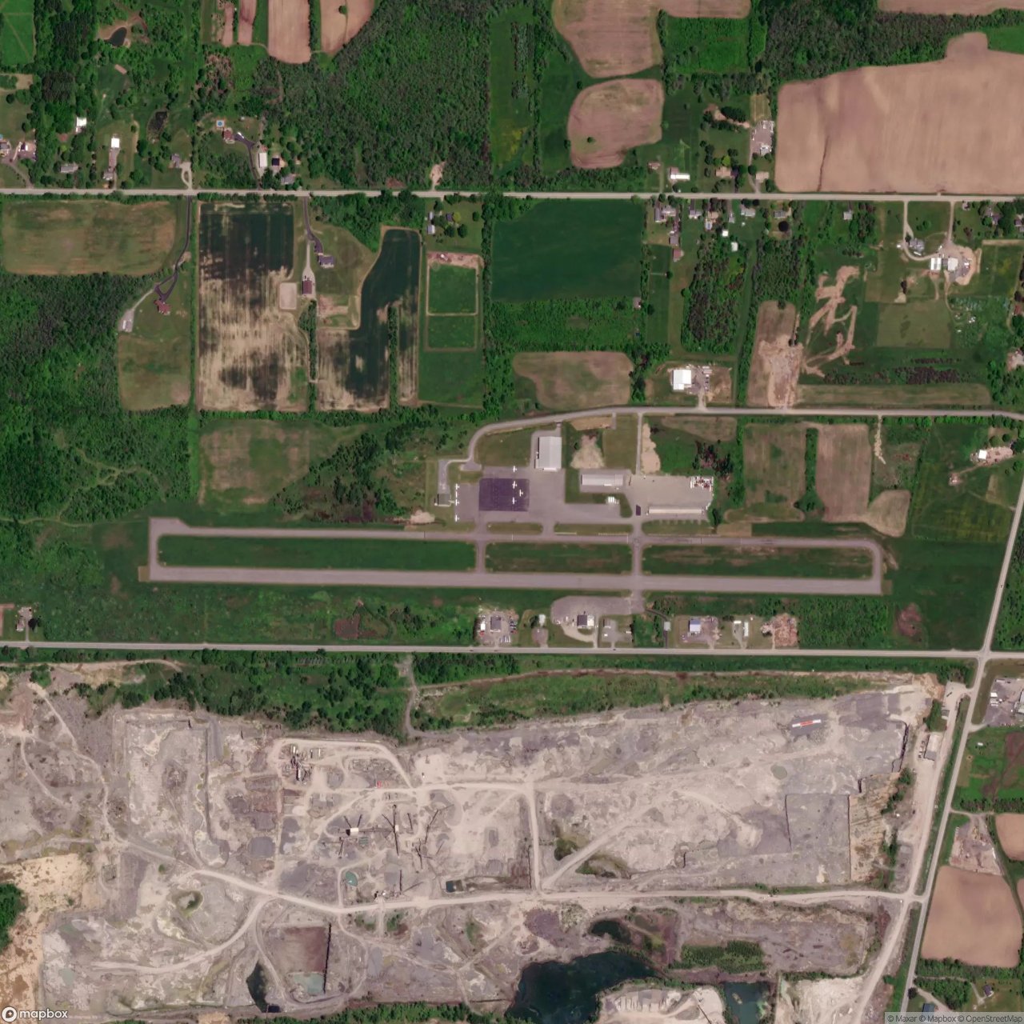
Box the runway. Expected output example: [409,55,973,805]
[150,567,881,594]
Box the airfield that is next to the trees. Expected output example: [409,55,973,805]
[139,425,892,641]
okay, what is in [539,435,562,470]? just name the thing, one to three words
hangar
